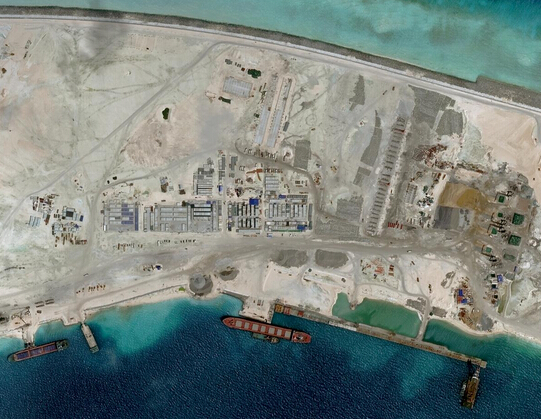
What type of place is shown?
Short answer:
port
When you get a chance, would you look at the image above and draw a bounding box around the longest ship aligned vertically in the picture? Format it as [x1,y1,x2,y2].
[464,368,480,408]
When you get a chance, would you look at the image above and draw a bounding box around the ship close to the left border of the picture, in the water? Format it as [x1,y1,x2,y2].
[8,341,68,361]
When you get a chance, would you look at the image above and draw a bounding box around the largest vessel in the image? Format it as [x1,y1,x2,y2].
[221,311,312,344]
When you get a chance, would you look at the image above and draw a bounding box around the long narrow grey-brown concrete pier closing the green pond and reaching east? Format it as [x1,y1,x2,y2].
[274,301,487,369]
